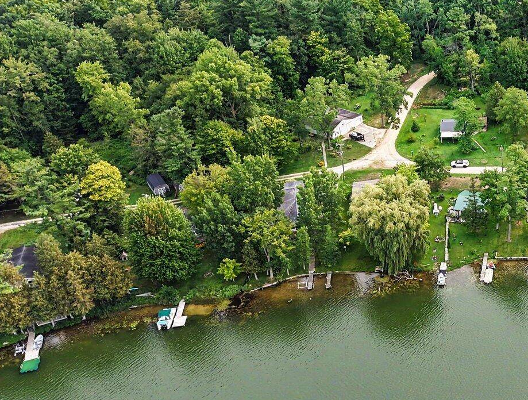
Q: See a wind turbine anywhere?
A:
No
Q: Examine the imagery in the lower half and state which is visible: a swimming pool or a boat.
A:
boat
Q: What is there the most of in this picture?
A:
trees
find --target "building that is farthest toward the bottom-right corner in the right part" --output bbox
[447,187,482,224]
